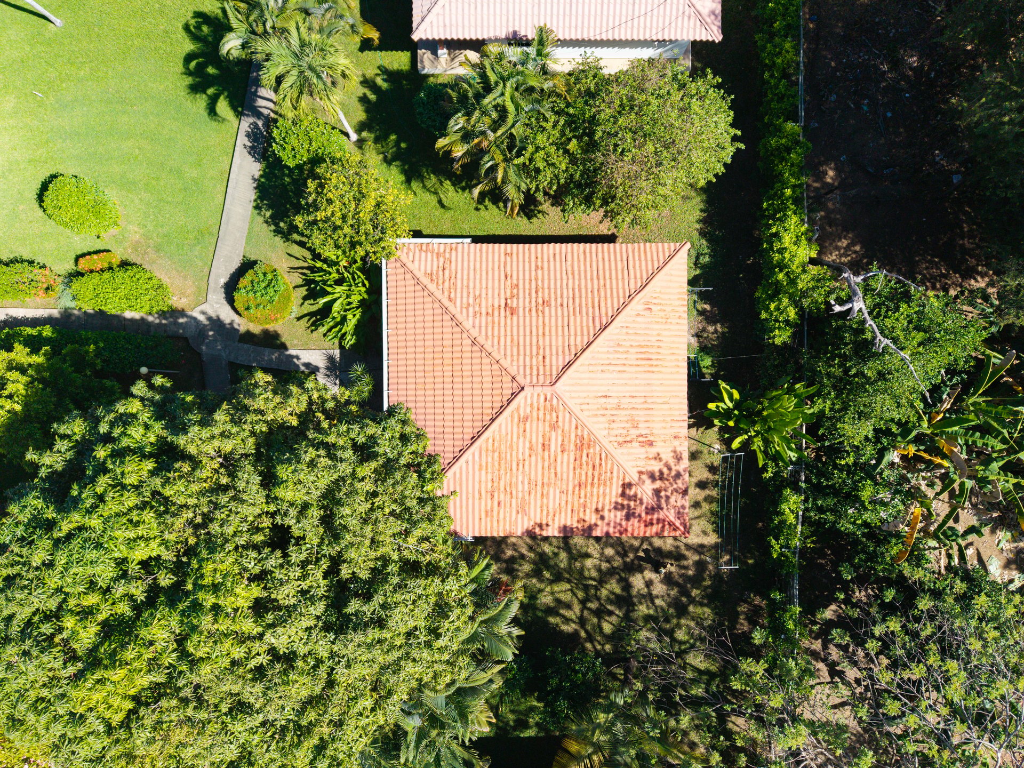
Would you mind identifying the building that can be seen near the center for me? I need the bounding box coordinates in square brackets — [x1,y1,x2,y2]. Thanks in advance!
[382,237,694,541]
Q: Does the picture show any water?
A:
No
